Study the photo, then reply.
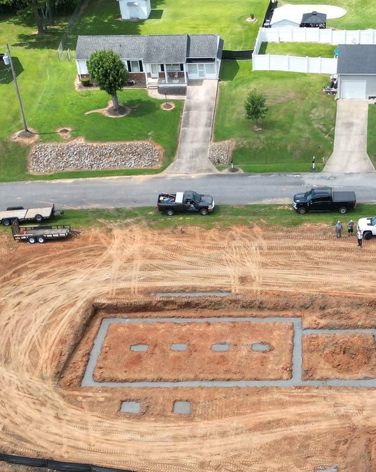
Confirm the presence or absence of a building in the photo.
Yes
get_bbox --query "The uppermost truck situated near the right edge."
[289,185,361,214]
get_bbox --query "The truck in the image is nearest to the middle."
[153,189,218,216]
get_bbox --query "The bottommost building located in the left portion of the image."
[71,28,227,88]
